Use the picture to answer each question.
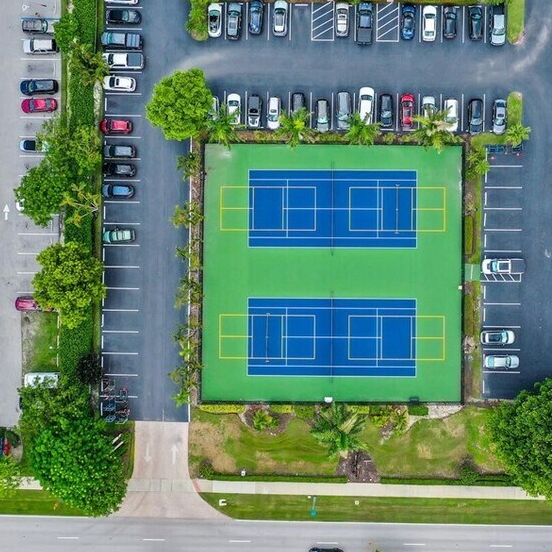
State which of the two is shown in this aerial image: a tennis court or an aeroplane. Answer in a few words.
tennis court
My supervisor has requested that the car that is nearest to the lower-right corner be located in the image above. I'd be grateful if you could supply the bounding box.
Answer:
[483,354,519,371]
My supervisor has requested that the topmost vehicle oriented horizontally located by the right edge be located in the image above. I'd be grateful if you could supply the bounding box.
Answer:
[481,257,526,275]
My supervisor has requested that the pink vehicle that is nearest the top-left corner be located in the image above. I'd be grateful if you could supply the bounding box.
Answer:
[22,96,59,113]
